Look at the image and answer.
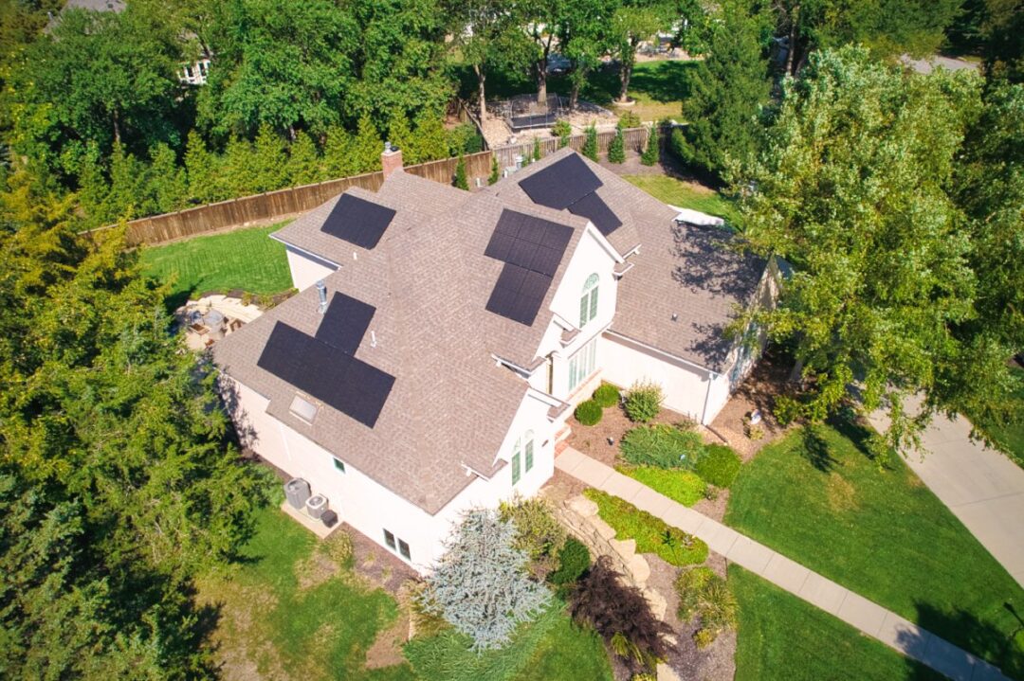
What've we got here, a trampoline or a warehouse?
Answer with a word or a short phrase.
trampoline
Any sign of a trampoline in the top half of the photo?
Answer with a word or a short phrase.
Yes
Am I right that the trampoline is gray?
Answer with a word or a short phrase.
Yes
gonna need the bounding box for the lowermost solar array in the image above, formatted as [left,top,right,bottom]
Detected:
[254,290,393,426]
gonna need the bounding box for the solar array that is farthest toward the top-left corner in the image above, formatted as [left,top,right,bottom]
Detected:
[319,191,394,247]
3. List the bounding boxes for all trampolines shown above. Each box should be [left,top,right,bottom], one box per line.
[508,95,566,136]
